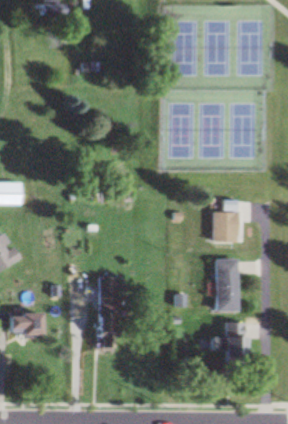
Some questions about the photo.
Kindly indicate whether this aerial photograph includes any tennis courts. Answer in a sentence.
Yes, a tennis court appears in the view.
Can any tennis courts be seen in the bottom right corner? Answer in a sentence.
No, no tennis court is visible in the bottom right corner.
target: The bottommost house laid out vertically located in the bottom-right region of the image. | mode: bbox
[226,322,242,362]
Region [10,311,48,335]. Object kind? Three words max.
house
